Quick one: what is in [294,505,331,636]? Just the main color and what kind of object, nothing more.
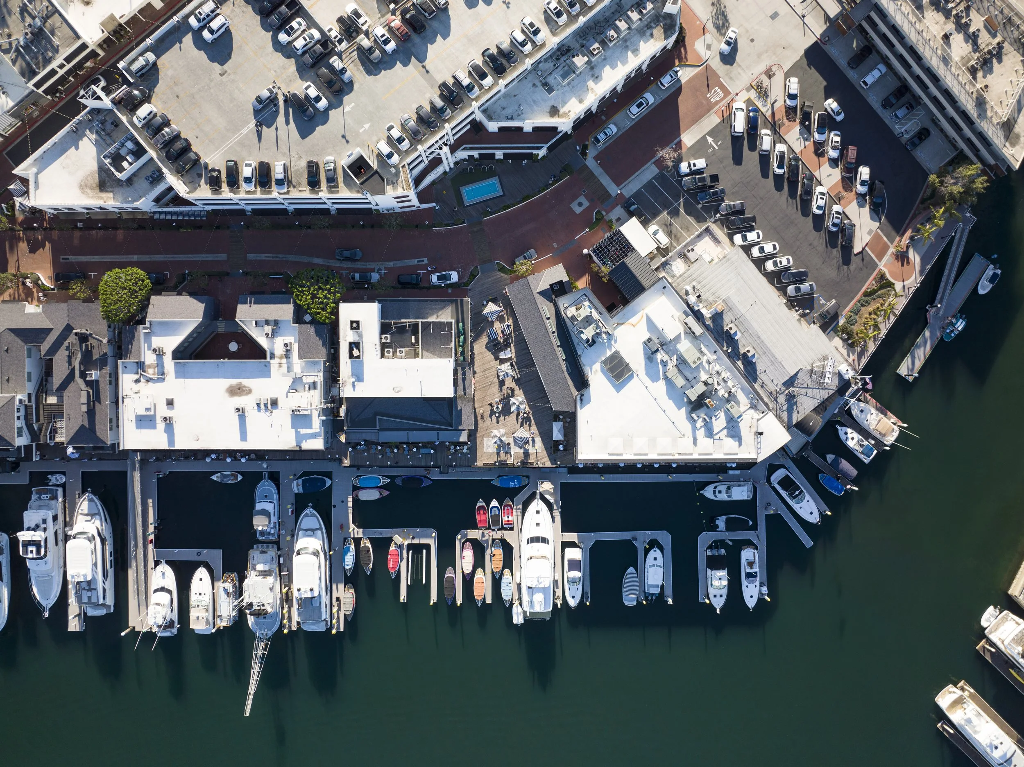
white boat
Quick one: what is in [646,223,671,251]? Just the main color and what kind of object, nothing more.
white car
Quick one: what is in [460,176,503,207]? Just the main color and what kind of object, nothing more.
blue swimming pool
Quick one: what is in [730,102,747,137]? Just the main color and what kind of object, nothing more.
white car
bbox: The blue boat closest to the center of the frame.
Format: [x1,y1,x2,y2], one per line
[491,474,529,488]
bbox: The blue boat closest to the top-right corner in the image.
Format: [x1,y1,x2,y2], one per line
[973,261,1000,294]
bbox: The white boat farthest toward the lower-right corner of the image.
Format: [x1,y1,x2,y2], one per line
[926,679,1022,767]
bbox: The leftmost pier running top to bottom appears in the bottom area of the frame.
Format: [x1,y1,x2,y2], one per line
[65,471,85,631]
